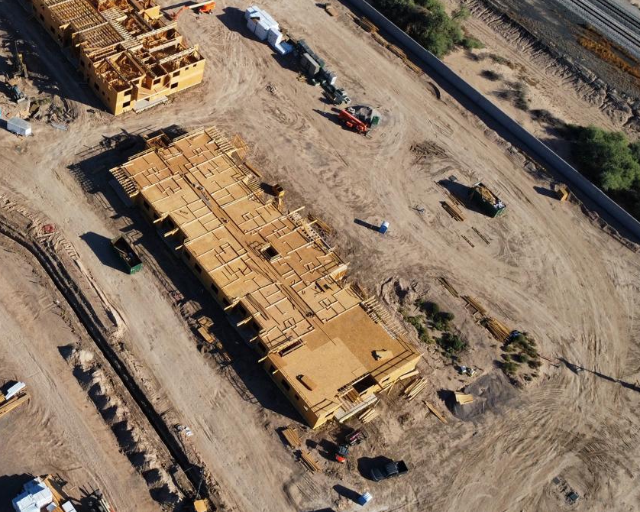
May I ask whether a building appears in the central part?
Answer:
Yes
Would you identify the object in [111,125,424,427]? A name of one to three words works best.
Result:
building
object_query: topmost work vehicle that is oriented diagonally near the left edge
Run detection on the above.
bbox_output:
[1,69,29,101]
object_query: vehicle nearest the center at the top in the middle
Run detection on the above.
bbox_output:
[340,110,379,140]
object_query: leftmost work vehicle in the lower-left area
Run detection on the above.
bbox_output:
[81,465,112,512]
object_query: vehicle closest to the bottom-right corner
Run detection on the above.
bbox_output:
[368,458,412,486]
